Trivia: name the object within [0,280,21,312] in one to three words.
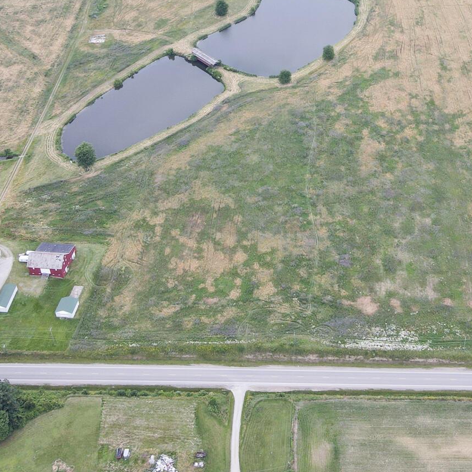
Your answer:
shed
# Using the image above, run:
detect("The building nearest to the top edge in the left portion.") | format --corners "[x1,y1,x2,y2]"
[27,244,76,283]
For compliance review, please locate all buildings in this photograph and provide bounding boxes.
[27,244,76,283]
[55,295,81,317]
[0,280,21,312]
